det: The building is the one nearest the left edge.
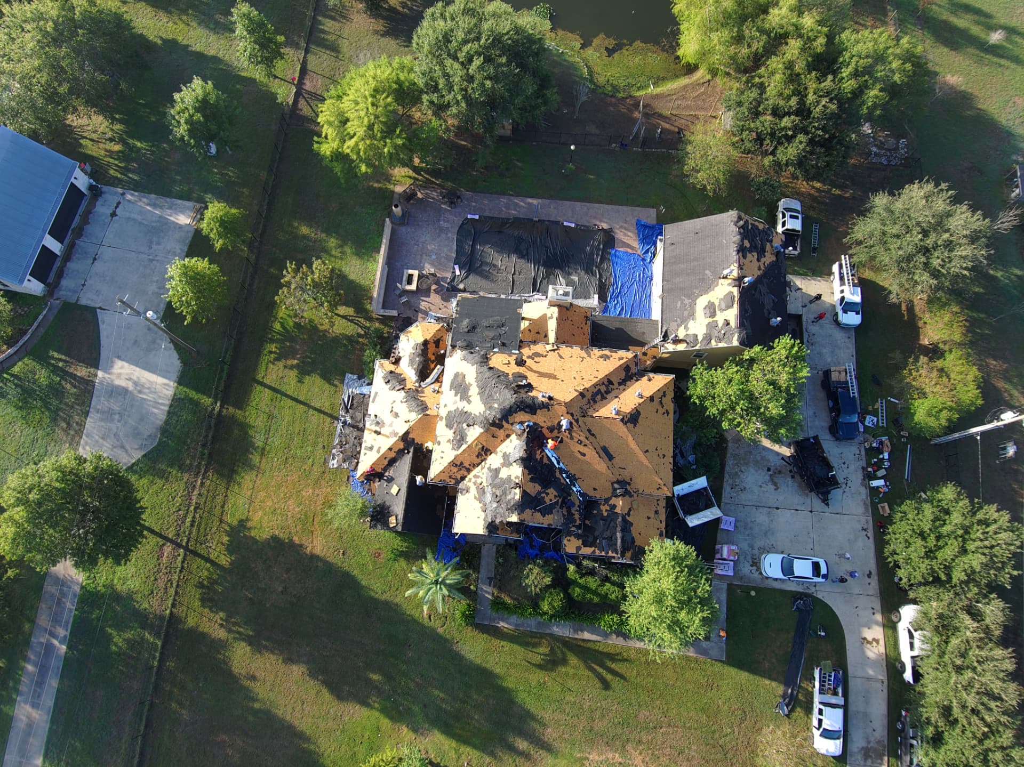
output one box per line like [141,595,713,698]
[0,137,90,299]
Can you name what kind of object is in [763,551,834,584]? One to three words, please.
car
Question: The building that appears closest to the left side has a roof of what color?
blue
